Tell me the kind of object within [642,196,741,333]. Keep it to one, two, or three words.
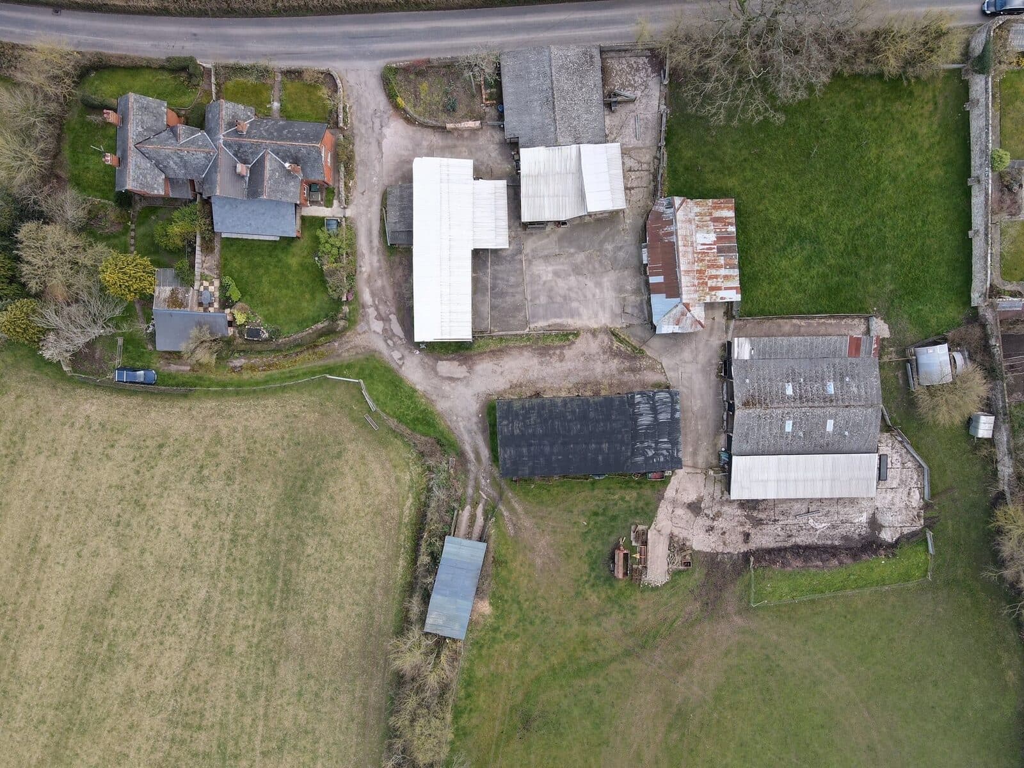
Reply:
barn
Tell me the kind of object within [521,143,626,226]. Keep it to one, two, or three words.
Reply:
building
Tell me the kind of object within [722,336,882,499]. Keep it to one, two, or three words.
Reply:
building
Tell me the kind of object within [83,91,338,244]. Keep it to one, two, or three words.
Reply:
house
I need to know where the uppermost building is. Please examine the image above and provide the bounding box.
[500,44,606,157]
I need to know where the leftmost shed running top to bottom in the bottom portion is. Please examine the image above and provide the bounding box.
[424,532,487,640]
